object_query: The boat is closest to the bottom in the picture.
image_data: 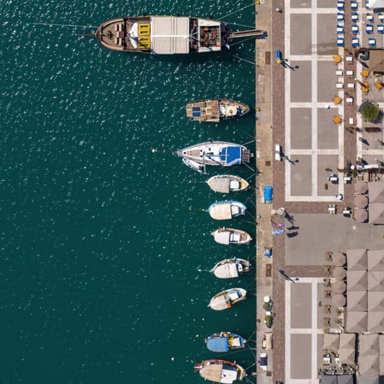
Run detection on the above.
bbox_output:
[196,361,246,384]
